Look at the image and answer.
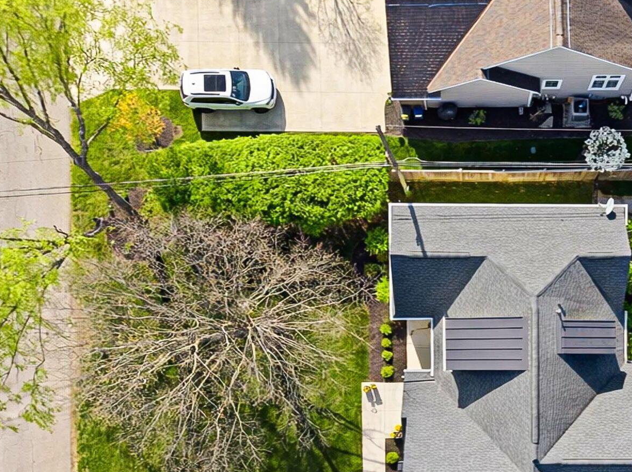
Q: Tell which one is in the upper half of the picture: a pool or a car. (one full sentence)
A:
It is a car that can be seen in the upper half of the picture.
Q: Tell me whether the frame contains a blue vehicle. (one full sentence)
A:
No, the picture doesn't show any blue vehicle.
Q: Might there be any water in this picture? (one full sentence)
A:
No, there is no water in the image.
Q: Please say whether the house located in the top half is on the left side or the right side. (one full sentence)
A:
The house located in the top half appears in the right half of the scene.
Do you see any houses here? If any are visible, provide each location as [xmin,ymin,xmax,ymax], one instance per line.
[388,201,632,472]
[386,0,632,121]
